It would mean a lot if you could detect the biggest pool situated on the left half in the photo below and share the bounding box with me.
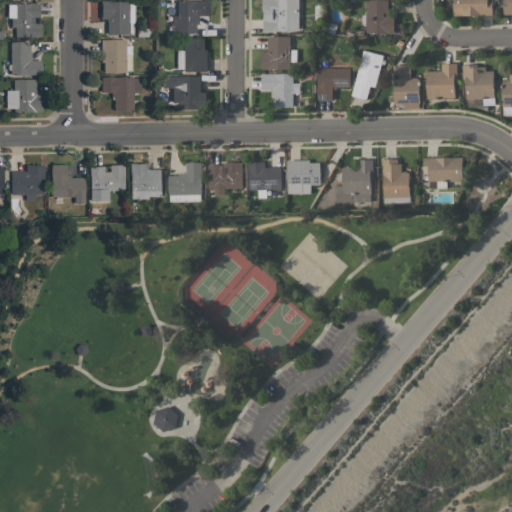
[10,197,28,220]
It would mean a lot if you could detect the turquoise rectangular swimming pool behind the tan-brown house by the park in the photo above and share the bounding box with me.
[428,190,456,206]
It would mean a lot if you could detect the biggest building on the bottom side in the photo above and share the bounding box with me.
[153,406,178,433]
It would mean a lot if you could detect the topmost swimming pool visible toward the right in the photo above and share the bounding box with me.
[332,10,347,24]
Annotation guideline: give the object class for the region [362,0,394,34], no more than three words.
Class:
house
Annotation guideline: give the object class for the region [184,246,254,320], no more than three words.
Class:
tennis court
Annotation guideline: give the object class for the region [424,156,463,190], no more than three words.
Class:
house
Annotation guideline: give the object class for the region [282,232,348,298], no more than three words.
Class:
sports court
